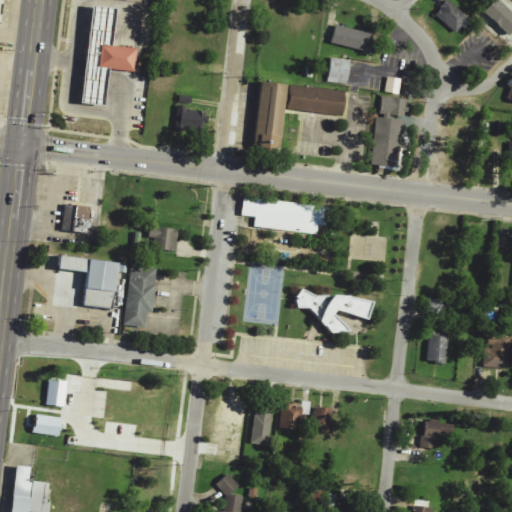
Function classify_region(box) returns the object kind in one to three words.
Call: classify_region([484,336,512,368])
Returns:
house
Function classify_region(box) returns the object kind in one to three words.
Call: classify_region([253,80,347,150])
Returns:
building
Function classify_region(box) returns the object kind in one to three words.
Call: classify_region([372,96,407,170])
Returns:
building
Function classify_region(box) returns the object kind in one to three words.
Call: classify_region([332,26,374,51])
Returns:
house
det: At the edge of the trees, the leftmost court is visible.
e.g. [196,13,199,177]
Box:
[242,266,285,324]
